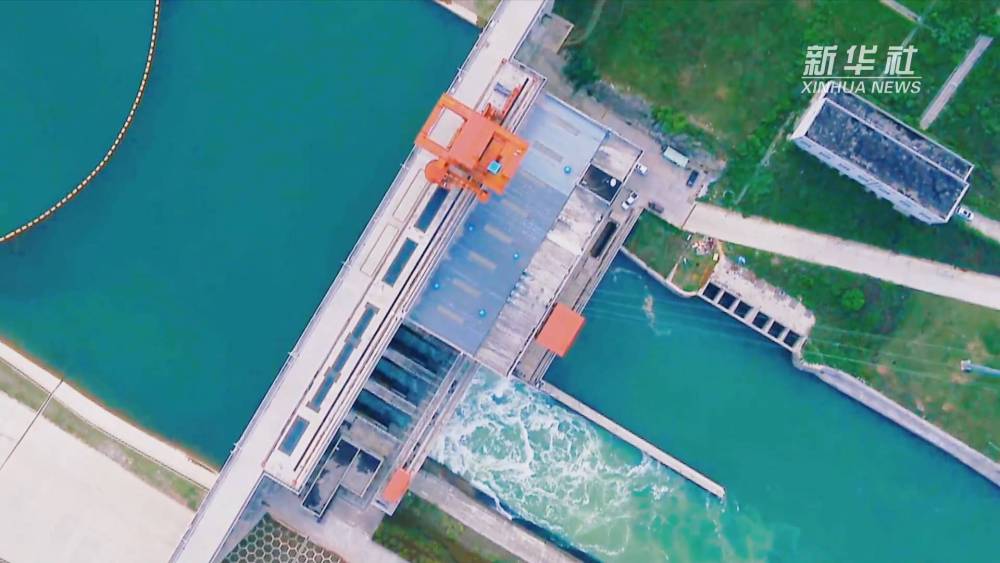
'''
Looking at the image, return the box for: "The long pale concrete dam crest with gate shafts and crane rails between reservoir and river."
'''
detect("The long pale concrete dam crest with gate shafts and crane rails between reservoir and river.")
[167,0,555,563]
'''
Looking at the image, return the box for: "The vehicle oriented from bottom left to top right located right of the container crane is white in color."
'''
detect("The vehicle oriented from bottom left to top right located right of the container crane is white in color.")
[621,192,638,209]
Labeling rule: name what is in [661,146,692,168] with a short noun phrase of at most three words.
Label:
truck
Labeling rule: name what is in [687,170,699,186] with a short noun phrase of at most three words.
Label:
vehicle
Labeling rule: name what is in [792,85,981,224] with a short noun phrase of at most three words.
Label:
building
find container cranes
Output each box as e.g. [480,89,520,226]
[415,94,529,210]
